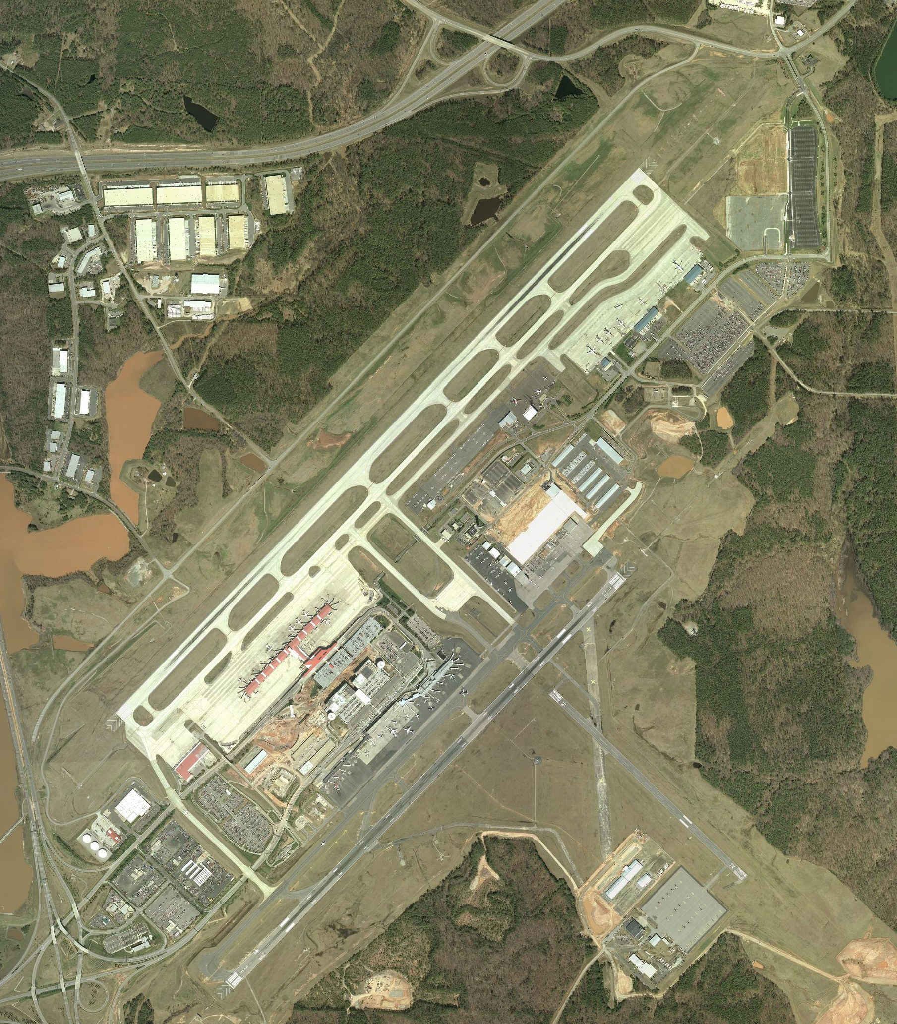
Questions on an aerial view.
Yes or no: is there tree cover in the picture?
Yes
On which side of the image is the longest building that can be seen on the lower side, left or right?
left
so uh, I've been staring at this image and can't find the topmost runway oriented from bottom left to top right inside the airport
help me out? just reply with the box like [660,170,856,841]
[116,168,647,721]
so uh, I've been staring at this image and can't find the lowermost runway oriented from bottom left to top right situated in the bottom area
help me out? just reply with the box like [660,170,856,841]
[226,572,626,989]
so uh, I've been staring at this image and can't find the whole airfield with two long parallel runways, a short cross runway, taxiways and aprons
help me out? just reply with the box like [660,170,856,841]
[107,163,747,998]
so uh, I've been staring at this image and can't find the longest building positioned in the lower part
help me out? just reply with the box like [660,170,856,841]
[237,594,339,702]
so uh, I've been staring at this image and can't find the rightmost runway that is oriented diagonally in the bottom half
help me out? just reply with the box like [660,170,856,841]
[549,689,747,881]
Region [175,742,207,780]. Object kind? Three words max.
hangar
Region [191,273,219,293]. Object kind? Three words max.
building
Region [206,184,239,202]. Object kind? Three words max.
building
